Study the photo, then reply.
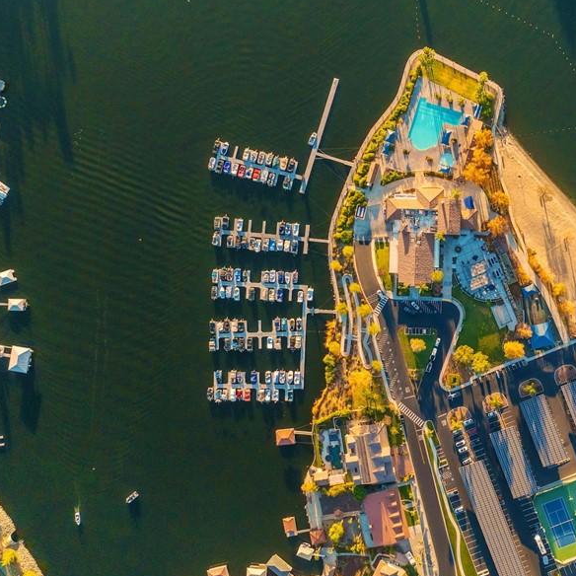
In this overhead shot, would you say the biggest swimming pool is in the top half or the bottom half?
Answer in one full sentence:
You can find the biggest swimming pool in the top half.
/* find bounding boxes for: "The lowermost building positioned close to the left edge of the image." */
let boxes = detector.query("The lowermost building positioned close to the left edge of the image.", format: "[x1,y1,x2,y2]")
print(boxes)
[8,345,38,372]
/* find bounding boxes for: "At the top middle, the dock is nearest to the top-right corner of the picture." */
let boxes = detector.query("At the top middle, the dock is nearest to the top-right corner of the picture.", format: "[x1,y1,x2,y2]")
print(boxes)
[300,77,353,193]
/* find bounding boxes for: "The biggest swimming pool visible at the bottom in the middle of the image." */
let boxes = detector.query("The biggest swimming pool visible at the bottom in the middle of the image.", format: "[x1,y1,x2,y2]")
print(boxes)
[328,443,343,468]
